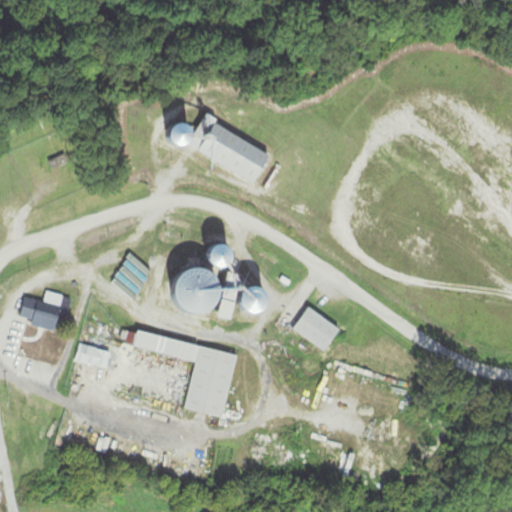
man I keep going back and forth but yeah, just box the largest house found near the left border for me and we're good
[18,290,70,332]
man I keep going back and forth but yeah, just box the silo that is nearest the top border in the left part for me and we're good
[168,122,194,150]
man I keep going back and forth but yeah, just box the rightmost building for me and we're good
[294,308,340,350]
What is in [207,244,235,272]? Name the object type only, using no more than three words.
silo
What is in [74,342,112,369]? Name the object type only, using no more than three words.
shed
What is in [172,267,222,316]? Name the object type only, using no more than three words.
silo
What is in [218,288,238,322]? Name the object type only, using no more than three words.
shed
